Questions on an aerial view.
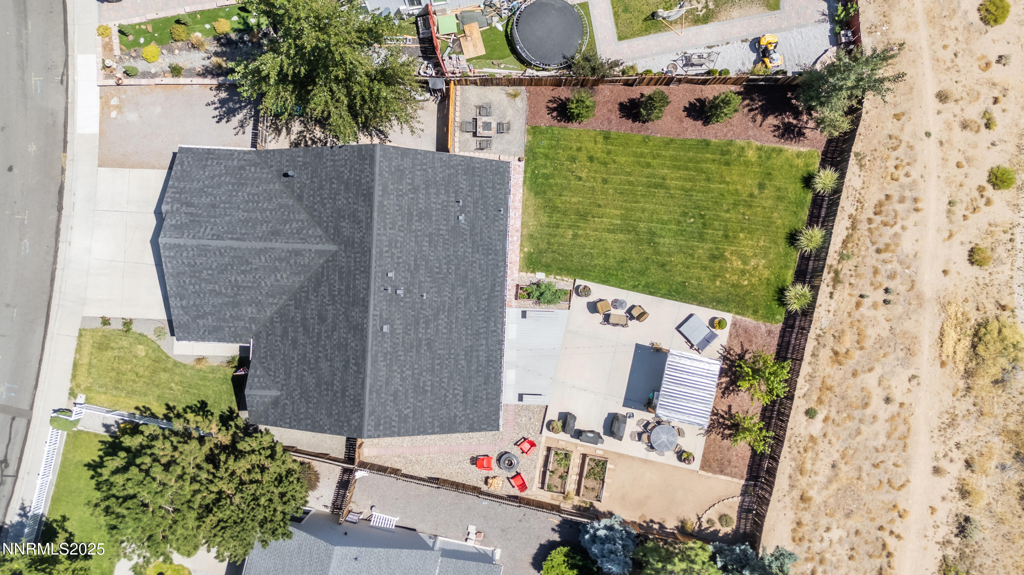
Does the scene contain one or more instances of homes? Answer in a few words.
Yes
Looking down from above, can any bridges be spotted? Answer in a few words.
No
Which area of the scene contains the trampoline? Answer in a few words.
top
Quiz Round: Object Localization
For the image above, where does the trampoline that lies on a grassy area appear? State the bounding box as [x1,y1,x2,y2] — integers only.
[511,0,591,70]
